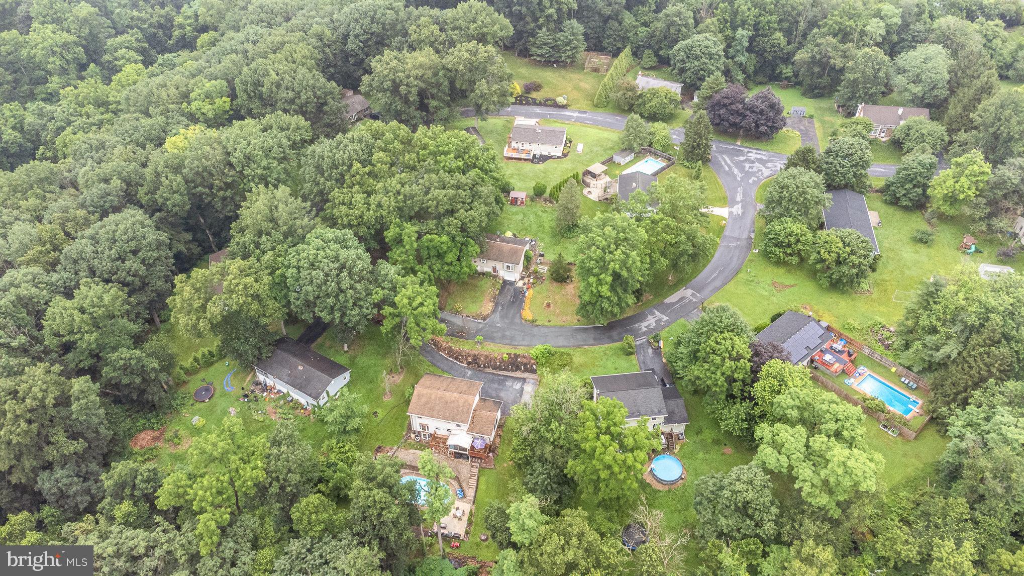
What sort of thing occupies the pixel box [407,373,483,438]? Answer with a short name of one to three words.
house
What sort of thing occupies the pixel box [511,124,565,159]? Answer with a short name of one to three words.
house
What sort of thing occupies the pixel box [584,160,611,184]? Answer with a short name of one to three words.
gazebo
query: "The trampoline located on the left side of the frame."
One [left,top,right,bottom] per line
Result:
[190,383,215,402]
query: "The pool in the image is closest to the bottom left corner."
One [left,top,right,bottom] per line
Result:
[405,472,454,511]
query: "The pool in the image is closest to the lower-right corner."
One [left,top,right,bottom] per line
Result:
[855,372,919,417]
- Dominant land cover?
trees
